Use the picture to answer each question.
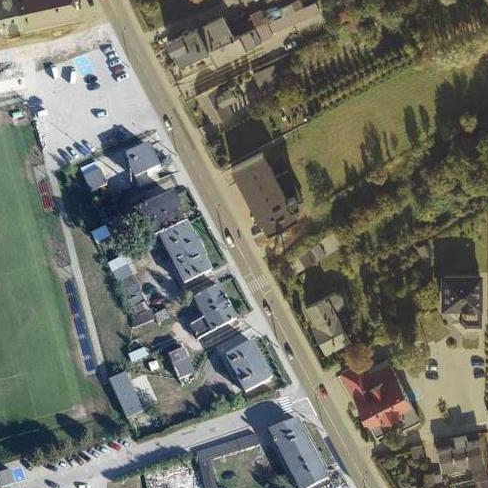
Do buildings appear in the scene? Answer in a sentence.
Yes, there's a building down there.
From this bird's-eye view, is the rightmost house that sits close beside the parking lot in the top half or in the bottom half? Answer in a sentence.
You can find the rightmost house that sits close beside the parking lot in the bottom half.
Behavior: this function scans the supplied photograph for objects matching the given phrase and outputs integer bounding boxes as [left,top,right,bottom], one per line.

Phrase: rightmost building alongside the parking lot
[340,363,413,431]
